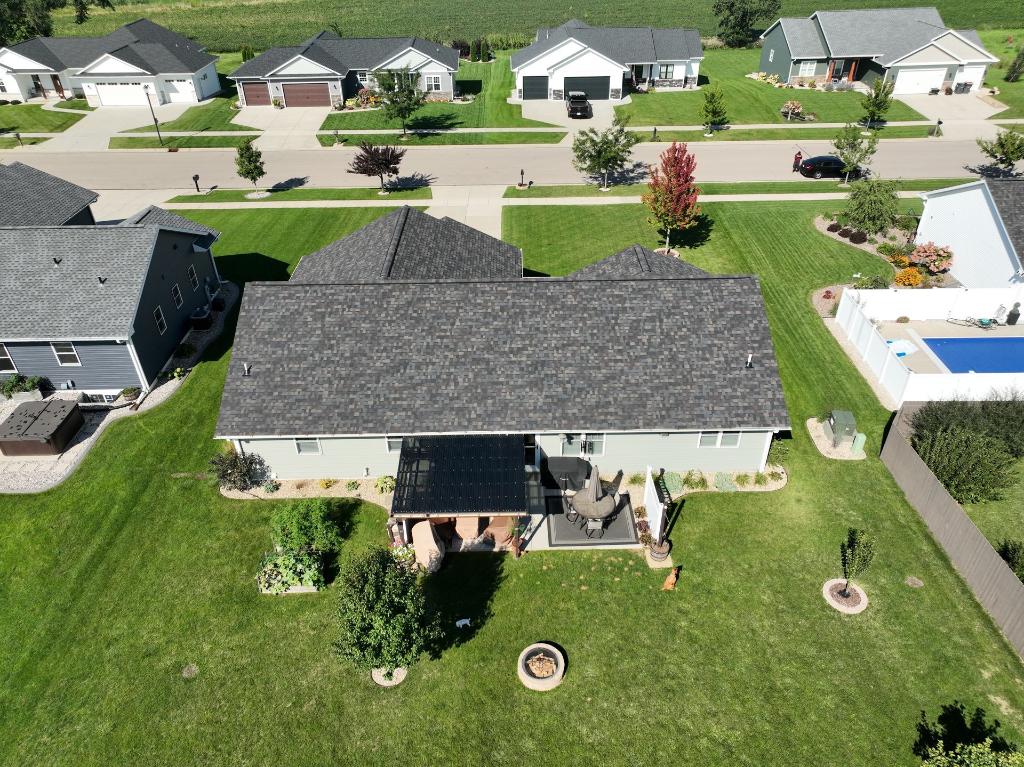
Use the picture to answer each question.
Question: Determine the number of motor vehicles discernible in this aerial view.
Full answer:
The count of motor vehicles comes to 2.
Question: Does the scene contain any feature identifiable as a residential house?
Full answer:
Yes, a residential house is visible in the scene.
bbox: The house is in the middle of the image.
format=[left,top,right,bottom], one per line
[214,204,792,493]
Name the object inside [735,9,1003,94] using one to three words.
building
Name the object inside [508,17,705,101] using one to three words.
house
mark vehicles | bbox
[798,153,870,179]
[564,89,591,116]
